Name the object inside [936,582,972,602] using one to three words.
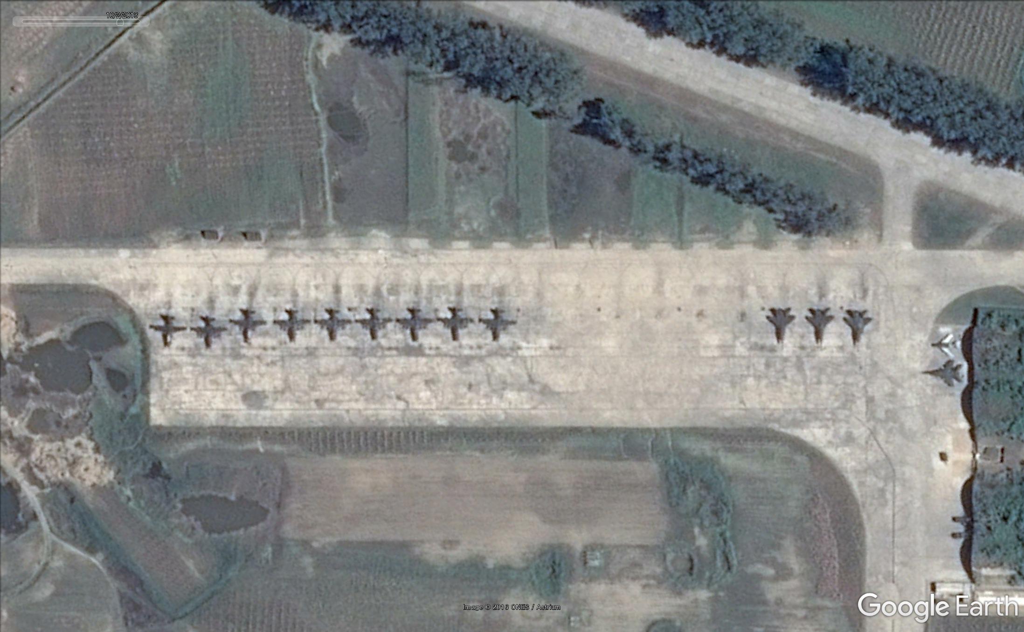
building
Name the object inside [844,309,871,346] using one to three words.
airplane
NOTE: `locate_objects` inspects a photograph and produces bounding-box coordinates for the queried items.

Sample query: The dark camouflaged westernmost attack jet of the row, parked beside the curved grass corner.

[151,313,185,348]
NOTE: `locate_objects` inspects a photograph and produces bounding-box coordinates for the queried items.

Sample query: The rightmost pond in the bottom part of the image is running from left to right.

[179,495,273,535]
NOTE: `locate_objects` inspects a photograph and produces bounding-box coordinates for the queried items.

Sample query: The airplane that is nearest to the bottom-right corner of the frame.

[923,360,960,387]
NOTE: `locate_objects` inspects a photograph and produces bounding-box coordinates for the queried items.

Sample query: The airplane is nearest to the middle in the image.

[479,308,513,343]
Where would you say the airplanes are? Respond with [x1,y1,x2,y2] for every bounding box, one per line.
[844,309,871,346]
[275,308,309,341]
[358,307,392,340]
[151,313,185,348]
[230,309,264,341]
[479,308,513,343]
[932,334,959,356]
[439,307,473,340]
[767,307,794,347]
[399,308,433,343]
[192,314,226,347]
[316,308,350,341]
[923,360,960,387]
[806,307,833,345]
